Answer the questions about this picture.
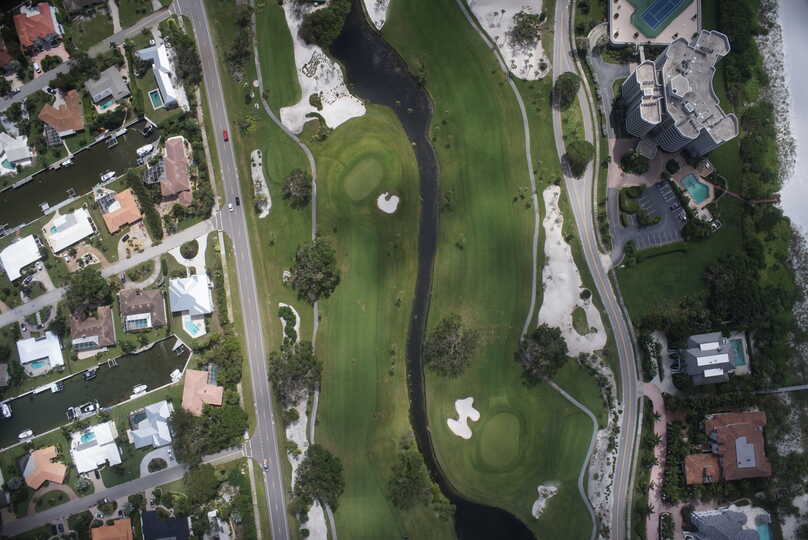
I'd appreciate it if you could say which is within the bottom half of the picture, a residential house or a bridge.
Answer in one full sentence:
The one visible within the bottom half of the picture is a residential house.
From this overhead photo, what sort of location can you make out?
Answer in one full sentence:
The area seen from above is a golf course.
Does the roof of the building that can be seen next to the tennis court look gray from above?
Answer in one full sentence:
Yes, the roof of the building that can be seen next to the tennis court is gray.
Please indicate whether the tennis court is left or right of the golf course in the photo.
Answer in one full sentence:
Looking at the photo, the tennis court lies to the right of the golf course.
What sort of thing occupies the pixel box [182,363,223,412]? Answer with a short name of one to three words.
house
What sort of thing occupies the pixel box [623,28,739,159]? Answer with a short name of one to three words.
building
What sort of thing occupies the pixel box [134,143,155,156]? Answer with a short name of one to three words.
boat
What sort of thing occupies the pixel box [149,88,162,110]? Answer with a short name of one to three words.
swimming pool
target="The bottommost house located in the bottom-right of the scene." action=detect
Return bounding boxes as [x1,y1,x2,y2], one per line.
[692,507,761,540]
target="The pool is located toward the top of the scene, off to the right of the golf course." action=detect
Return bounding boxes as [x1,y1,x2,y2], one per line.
[672,170,713,208]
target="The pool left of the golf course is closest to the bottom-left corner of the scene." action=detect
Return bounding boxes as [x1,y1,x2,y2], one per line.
[69,427,95,451]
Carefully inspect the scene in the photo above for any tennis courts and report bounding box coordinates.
[628,0,694,37]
